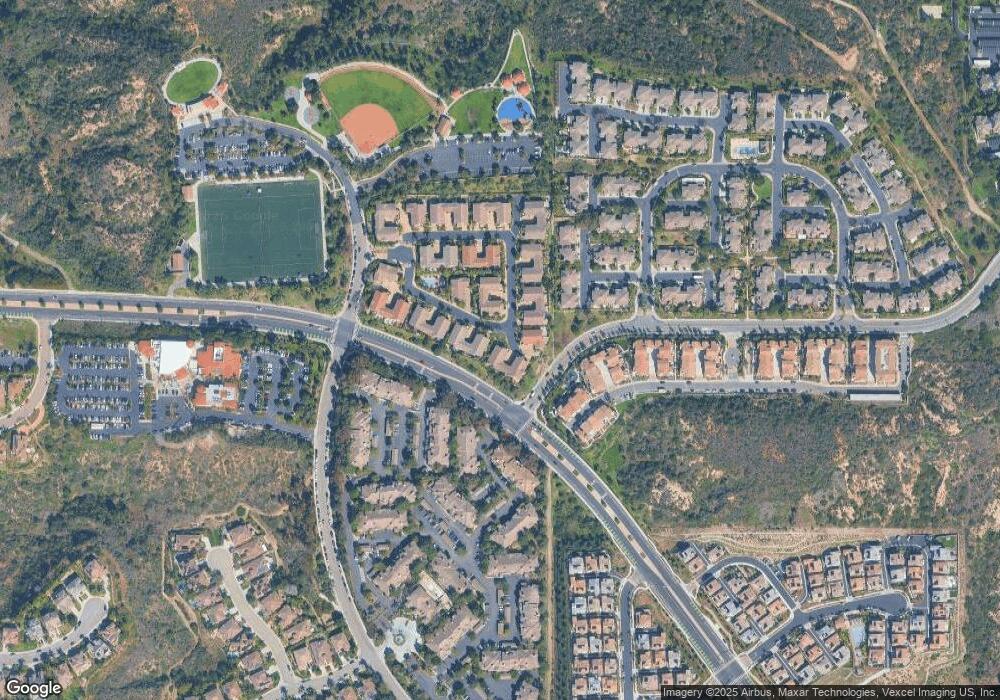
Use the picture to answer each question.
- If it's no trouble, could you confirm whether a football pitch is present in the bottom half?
No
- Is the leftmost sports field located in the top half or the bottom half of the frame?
top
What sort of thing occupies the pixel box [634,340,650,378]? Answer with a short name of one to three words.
house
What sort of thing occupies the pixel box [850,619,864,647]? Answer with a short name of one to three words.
swimming pool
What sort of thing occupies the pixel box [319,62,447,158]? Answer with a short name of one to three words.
baseball field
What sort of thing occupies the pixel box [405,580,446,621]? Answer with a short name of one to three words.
building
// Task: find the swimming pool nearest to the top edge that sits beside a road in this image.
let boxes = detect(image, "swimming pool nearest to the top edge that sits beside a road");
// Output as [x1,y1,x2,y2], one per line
[730,138,760,158]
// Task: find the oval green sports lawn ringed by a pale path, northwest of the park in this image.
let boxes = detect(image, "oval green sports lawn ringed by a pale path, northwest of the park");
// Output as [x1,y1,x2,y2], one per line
[162,57,223,108]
